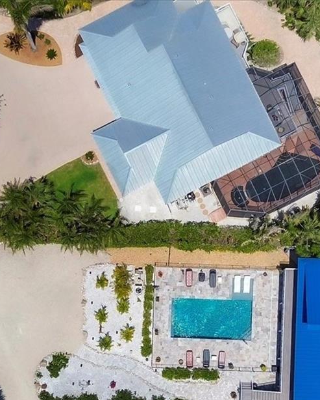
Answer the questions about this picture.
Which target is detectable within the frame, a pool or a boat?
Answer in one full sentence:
There is a pool in the scene.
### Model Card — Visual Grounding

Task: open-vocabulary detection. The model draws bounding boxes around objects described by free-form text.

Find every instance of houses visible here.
[275,258,320,400]
[78,0,281,204]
